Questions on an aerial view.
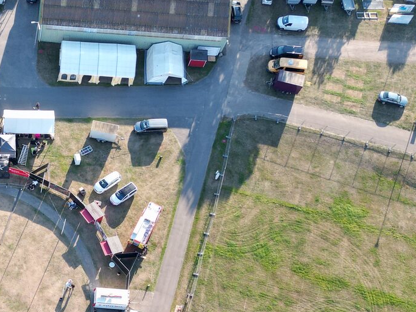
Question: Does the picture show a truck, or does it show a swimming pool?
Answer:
truck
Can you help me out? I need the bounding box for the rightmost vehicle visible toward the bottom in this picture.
[127,204,161,253]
